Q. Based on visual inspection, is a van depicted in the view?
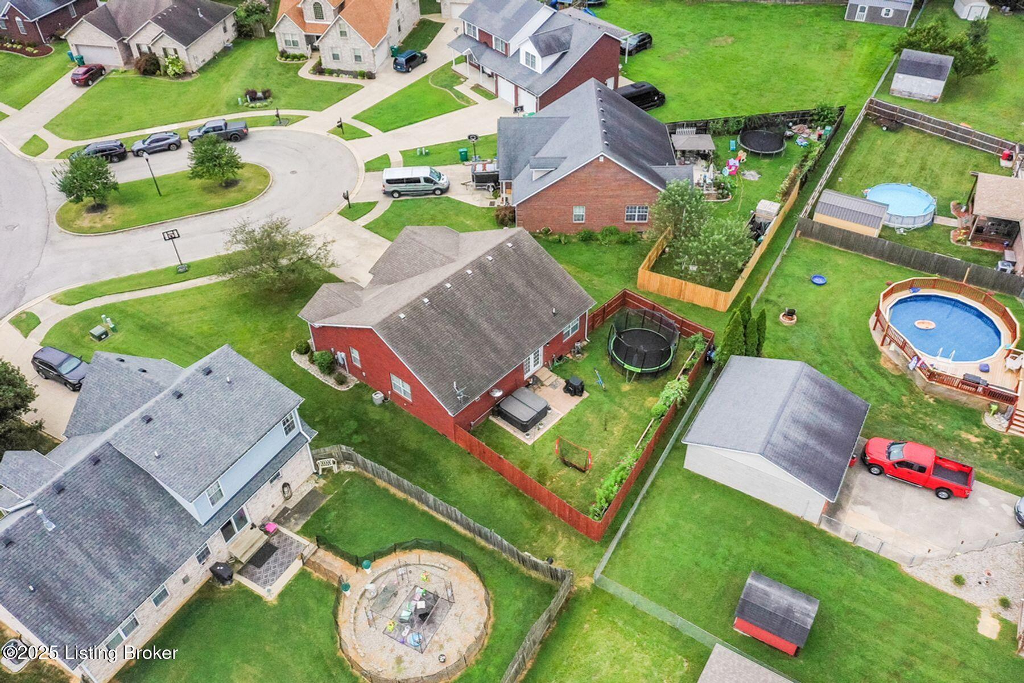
Yes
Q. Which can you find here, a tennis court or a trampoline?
trampoline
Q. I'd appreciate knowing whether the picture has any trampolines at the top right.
Yes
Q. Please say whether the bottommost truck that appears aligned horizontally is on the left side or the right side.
right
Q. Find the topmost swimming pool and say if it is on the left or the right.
right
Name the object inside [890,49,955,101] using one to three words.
shed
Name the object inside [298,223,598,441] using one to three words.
house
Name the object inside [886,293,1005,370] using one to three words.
swimming pool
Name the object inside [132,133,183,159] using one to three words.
car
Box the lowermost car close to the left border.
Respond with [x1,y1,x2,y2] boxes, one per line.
[27,343,88,394]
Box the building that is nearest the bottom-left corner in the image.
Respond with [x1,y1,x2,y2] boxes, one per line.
[0,346,321,683]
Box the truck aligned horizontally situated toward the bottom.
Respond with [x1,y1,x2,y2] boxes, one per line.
[861,450,977,509]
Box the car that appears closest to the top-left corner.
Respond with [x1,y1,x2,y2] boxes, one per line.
[68,66,112,88]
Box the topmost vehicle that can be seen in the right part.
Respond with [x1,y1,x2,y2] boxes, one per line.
[619,32,657,56]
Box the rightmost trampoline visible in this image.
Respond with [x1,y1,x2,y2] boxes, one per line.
[737,129,788,160]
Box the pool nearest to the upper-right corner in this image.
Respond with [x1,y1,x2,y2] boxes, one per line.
[864,181,942,229]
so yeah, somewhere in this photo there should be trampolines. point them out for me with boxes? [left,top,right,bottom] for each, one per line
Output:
[737,129,788,160]
[607,305,678,388]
